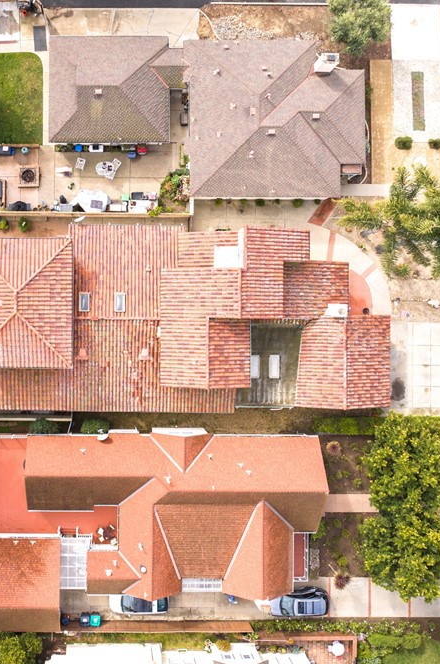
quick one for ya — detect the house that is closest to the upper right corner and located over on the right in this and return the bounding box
[183,39,366,198]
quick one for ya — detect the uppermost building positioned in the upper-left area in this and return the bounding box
[48,34,187,145]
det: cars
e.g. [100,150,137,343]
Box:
[106,594,166,618]
[268,589,329,621]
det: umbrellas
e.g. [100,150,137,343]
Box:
[75,183,105,217]
[330,639,343,655]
